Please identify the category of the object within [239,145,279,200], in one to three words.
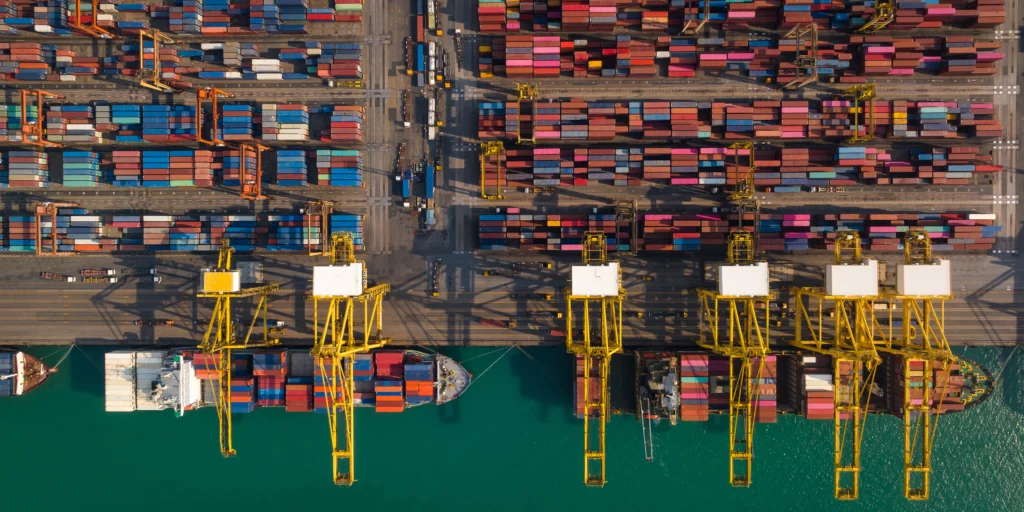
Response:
container crane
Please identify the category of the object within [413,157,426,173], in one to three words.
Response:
vehicle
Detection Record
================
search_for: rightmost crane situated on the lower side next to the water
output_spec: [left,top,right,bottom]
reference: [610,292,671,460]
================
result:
[851,233,958,501]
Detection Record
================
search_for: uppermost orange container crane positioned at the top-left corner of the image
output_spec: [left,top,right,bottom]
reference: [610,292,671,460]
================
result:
[77,0,122,40]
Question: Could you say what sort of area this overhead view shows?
port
